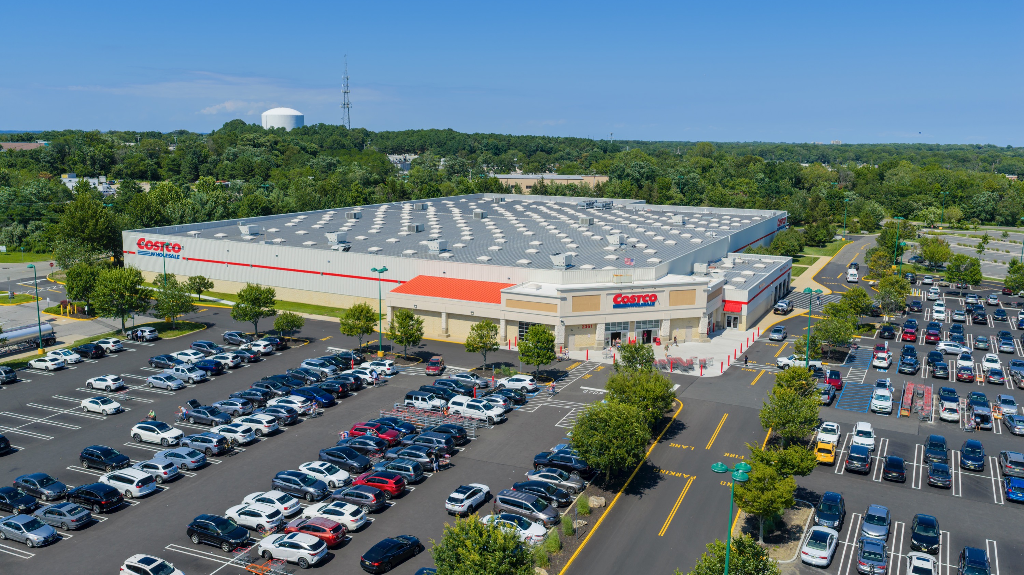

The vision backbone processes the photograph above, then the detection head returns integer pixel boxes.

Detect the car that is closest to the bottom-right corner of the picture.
[956,548,992,575]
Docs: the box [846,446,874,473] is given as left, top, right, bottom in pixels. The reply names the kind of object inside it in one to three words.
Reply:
car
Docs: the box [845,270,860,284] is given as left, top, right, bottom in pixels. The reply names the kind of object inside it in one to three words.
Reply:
vehicle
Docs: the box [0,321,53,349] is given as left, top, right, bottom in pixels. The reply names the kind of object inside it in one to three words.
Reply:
trailer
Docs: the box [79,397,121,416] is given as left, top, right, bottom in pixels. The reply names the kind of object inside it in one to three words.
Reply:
car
